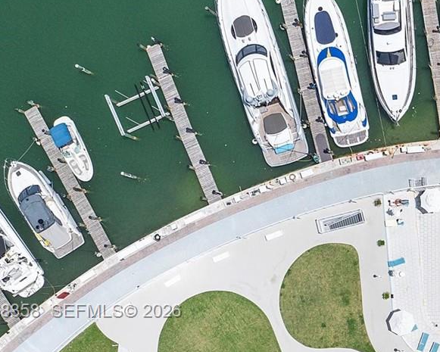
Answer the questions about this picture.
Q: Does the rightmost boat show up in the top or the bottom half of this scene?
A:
top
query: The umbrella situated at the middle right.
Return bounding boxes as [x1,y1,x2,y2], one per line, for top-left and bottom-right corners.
[420,187,440,214]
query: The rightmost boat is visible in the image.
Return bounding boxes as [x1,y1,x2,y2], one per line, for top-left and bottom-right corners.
[368,0,420,125]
